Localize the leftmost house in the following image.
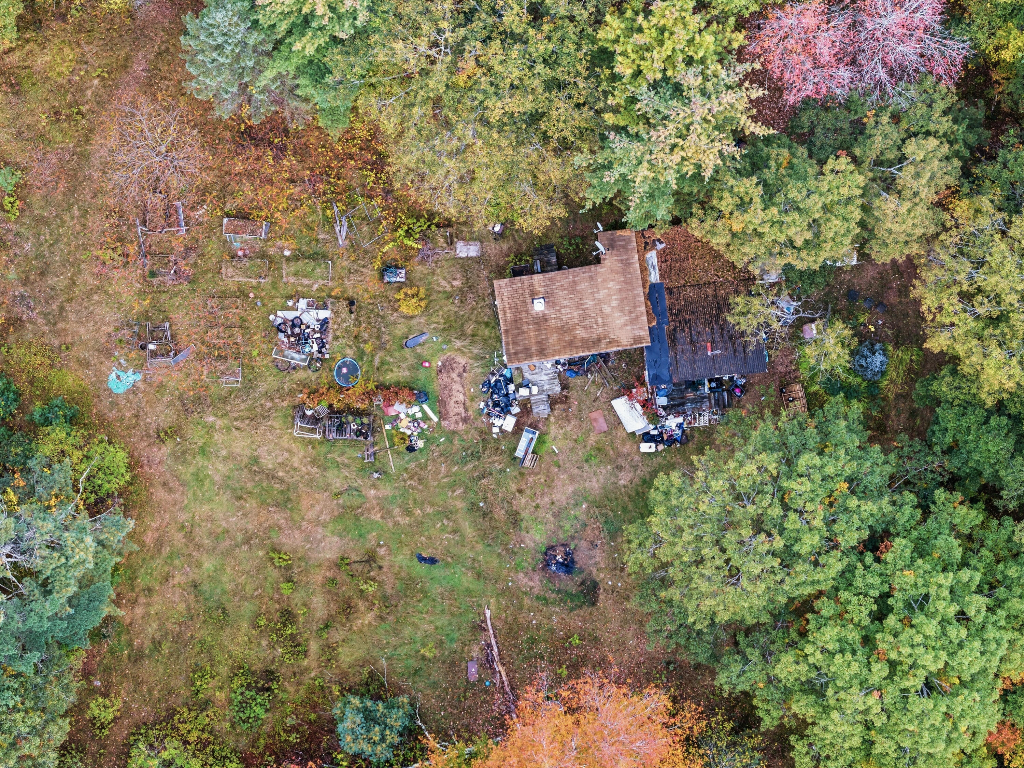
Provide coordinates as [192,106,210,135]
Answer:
[493,226,652,368]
